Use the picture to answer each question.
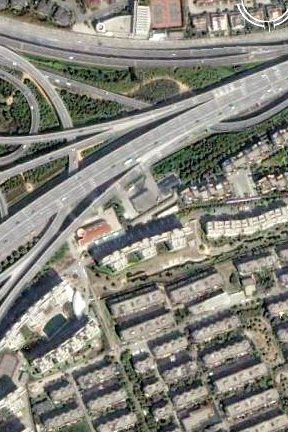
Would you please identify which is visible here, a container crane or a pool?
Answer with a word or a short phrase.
pool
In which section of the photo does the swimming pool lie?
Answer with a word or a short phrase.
bottom left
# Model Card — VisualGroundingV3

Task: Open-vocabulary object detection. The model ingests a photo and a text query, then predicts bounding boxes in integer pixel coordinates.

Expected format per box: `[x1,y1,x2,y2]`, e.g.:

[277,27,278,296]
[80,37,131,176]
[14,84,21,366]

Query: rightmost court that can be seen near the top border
[166,0,183,27]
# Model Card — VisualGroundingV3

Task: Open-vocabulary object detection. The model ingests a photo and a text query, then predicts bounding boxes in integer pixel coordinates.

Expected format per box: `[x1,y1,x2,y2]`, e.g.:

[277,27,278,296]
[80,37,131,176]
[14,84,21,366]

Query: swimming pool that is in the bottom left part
[42,314,68,340]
